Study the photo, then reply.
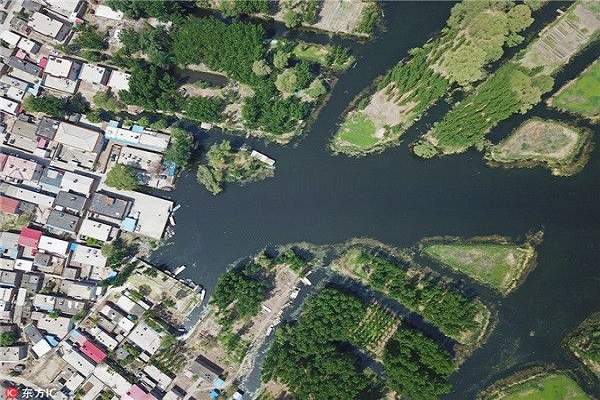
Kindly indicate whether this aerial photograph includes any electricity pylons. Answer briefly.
No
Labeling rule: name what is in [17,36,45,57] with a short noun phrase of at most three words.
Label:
house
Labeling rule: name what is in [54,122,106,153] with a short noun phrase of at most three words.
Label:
building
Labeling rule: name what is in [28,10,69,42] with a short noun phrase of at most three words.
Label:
house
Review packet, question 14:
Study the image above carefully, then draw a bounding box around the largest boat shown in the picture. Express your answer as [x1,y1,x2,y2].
[252,150,275,166]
